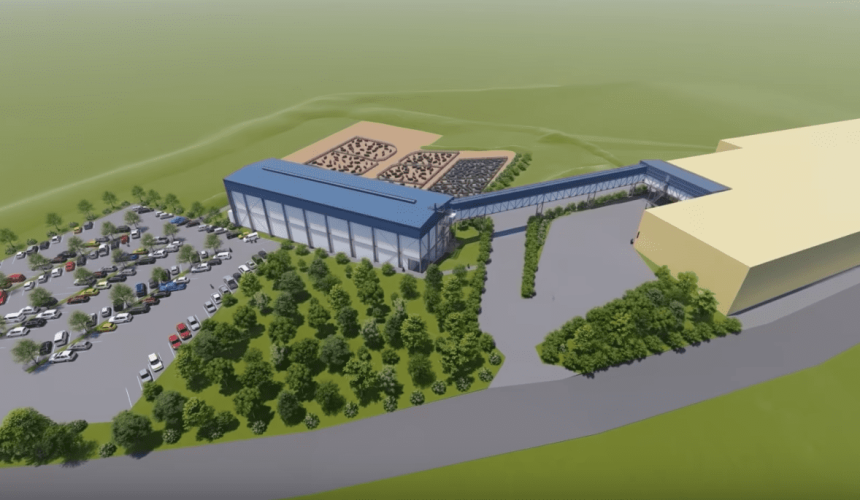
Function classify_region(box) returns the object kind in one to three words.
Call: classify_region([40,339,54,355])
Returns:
vehicle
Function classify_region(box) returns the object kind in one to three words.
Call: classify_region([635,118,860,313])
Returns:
building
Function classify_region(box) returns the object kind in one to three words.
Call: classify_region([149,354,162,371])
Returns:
vehicle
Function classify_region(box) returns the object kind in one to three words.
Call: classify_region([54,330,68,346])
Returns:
car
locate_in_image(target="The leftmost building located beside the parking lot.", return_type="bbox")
[223,158,454,276]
